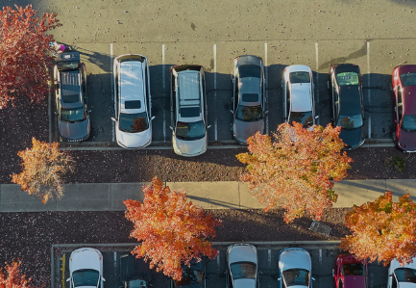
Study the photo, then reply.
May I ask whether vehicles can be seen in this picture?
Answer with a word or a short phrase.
Yes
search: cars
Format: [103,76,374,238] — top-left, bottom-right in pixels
[327,62,370,151]
[112,53,154,149]
[331,252,370,288]
[230,54,269,146]
[53,49,94,143]
[168,64,210,158]
[282,64,319,150]
[277,246,317,288]
[167,248,211,288]
[390,63,416,154]
[224,243,263,288]
[65,246,106,288]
